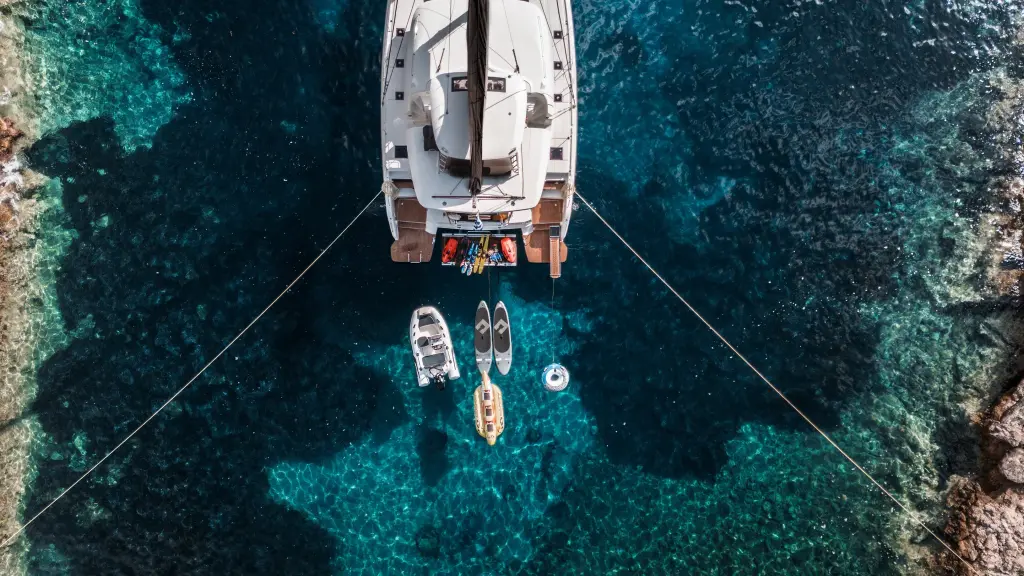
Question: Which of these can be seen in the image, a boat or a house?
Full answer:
The image shows a boat.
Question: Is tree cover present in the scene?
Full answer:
No, there's no tree cover in this view.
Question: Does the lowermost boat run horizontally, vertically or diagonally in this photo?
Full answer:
The lowermost boat is oriented vertically.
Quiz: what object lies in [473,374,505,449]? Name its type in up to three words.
boat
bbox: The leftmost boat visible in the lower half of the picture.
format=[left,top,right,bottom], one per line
[412,305,461,395]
